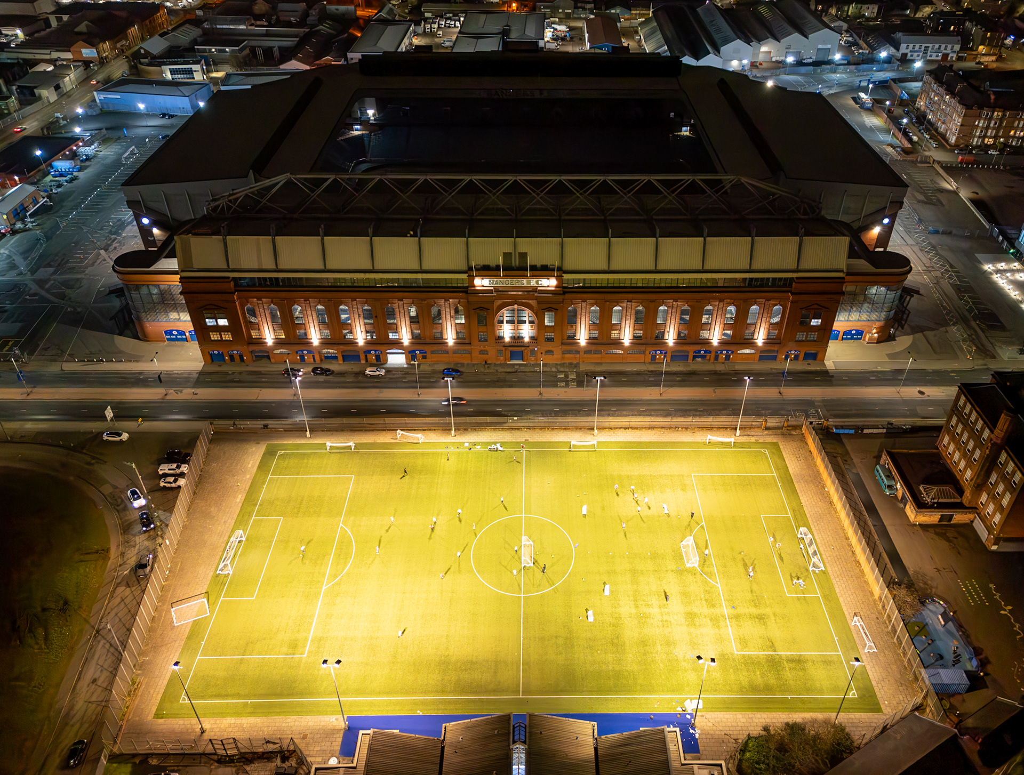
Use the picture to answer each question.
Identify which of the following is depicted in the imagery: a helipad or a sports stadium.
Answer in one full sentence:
There is a sports stadium in the scene.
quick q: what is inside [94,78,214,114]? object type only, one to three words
building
